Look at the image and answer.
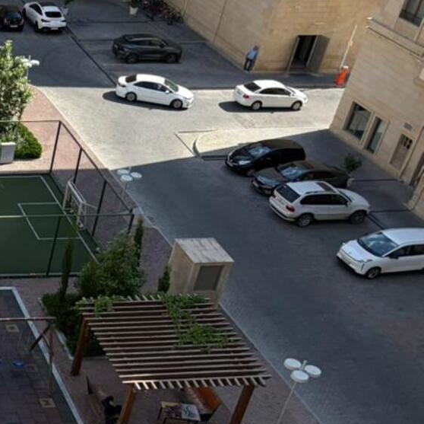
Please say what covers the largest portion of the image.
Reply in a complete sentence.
Most of the picture is covered by paved ground.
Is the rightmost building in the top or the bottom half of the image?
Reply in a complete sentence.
The top half of the photo is where the rightmost building is.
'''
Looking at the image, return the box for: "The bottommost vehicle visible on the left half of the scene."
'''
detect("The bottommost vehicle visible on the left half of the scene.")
[118,71,198,108]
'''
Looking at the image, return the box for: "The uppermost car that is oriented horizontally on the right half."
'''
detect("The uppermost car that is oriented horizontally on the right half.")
[233,77,312,109]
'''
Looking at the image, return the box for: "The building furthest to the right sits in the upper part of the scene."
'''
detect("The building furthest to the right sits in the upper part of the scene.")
[329,0,424,214]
